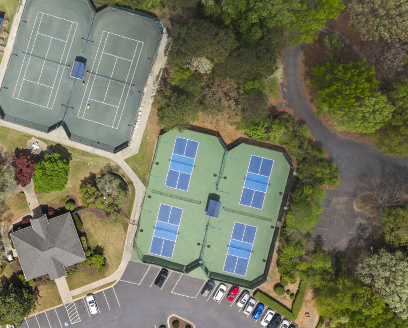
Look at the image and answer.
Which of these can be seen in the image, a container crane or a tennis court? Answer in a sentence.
There is a tennis court in the scene.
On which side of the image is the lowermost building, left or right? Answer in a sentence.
The lowermost building appears in the left half of the scene.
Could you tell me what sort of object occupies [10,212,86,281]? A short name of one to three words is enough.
building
